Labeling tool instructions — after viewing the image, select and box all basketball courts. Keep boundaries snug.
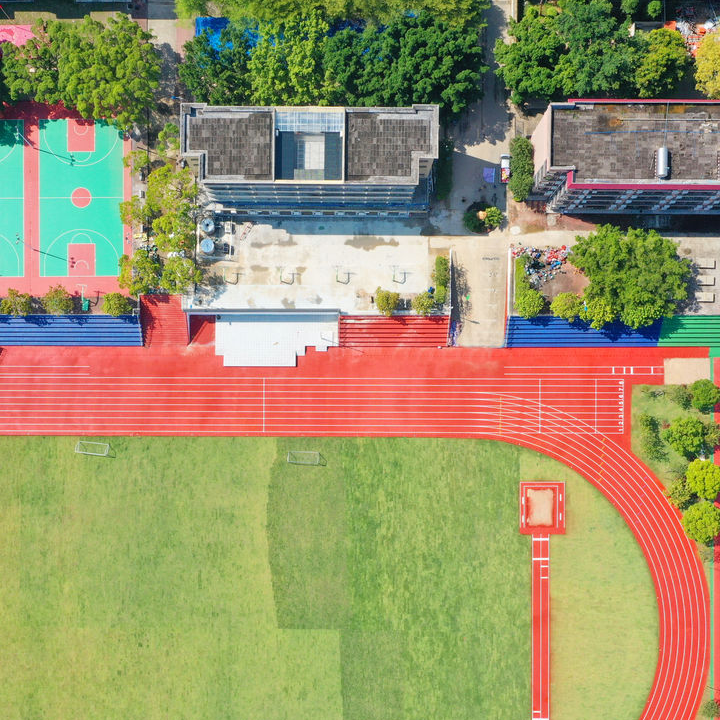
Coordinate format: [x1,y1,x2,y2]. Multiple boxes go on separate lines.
[39,119,124,277]
[0,119,24,277]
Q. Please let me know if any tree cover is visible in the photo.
Yes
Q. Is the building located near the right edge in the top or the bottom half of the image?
top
